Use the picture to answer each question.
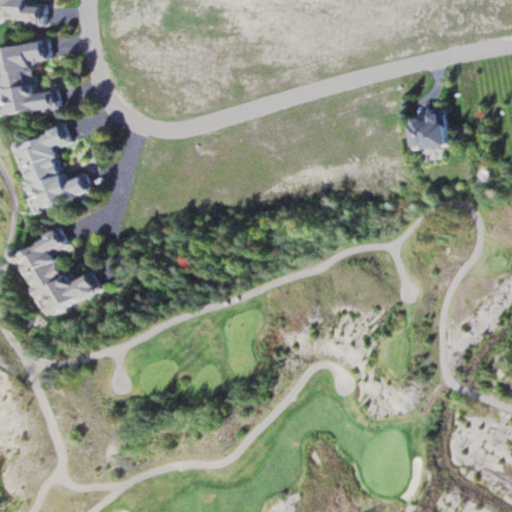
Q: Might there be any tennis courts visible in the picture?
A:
No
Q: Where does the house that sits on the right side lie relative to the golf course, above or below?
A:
above it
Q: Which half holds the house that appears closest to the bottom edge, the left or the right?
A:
left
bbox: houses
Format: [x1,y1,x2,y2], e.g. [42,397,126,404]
[11,120,94,216]
[0,0,51,28]
[6,226,104,328]
[0,36,64,115]
[404,104,446,161]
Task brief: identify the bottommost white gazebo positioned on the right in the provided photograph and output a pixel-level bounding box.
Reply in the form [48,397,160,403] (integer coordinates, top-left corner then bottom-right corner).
[477,167,490,181]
